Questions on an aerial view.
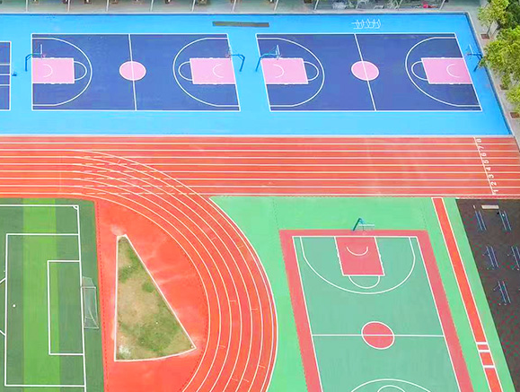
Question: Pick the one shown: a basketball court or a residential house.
basketball court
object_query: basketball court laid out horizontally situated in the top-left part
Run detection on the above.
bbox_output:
[32,33,241,111]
